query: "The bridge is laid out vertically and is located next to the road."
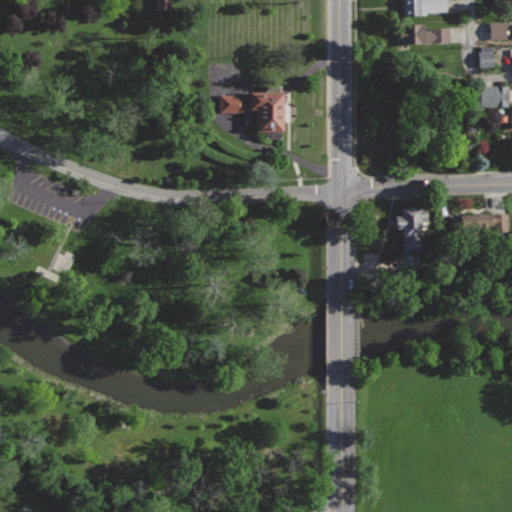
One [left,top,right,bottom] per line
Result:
[326,309,361,387]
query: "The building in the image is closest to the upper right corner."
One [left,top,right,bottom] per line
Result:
[490,22,512,40]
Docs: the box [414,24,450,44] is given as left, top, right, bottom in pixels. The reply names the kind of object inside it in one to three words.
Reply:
house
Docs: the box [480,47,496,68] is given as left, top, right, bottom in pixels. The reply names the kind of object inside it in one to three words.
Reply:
house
